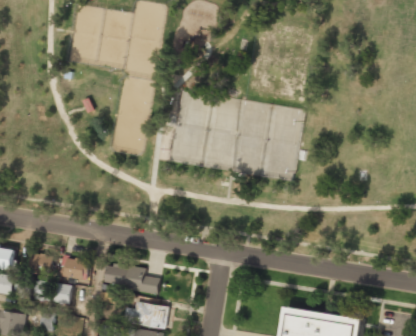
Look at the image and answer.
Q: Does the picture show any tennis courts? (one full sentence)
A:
Yes, a tennis court appears in the view.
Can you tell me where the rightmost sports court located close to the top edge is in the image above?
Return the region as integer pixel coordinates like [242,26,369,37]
[126,0,166,78]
